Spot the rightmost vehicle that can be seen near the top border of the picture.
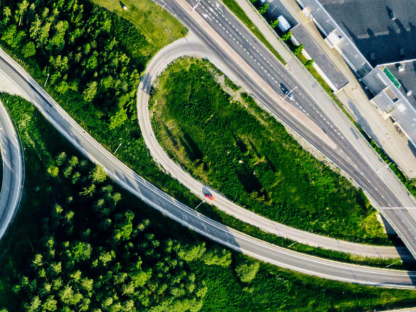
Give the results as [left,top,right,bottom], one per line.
[277,11,292,32]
